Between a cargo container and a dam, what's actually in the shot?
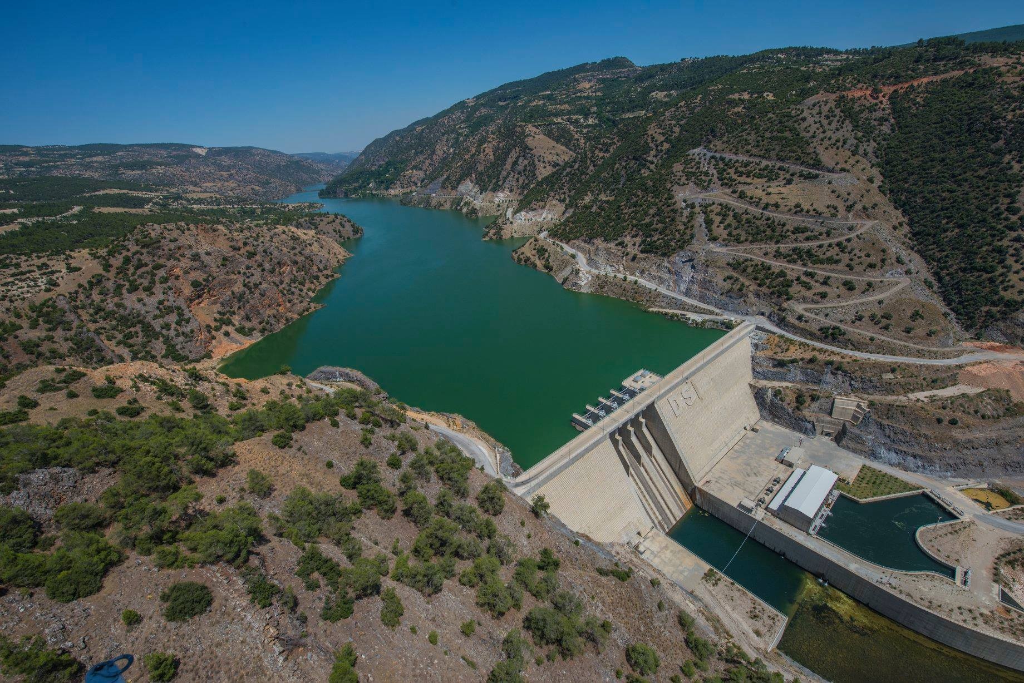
dam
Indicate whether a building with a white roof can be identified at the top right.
No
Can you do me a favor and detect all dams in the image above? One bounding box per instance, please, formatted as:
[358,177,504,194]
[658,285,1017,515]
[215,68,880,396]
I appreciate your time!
[503,319,760,551]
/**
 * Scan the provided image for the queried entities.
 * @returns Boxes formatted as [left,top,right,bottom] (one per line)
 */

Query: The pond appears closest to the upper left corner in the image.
[218,182,727,470]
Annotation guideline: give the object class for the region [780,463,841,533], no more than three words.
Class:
building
